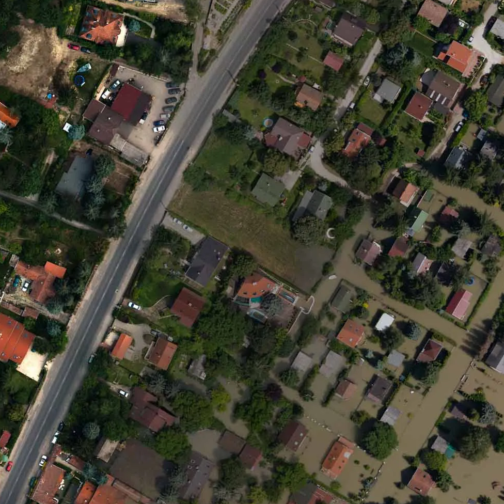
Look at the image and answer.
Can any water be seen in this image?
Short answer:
Yes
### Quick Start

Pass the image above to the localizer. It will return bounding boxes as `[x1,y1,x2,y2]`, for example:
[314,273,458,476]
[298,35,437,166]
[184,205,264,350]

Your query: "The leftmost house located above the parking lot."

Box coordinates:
[78,4,130,47]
